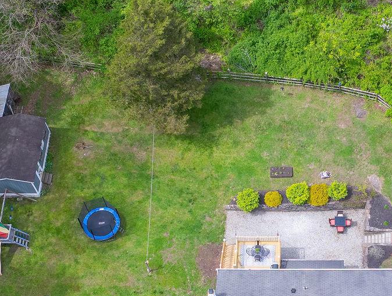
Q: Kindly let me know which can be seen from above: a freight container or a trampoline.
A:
trampoline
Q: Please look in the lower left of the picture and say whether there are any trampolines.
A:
Yes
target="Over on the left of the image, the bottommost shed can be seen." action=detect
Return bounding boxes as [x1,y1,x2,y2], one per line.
[0,113,51,194]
